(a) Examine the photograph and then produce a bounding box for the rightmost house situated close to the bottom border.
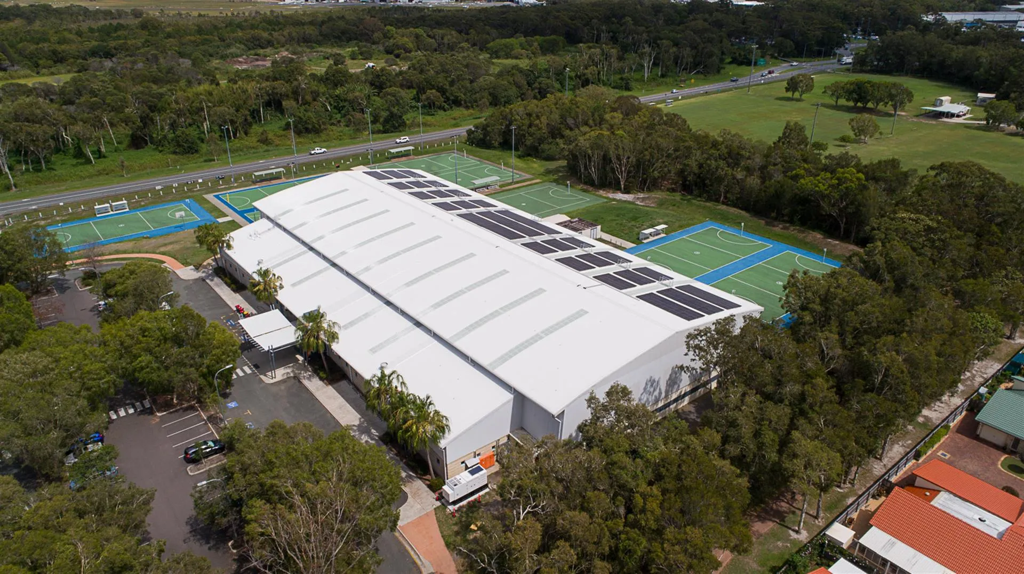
[855,454,1024,574]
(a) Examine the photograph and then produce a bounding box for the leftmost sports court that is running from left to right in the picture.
[40,204,199,246]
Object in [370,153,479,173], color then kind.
green sports court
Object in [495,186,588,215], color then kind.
green sports court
